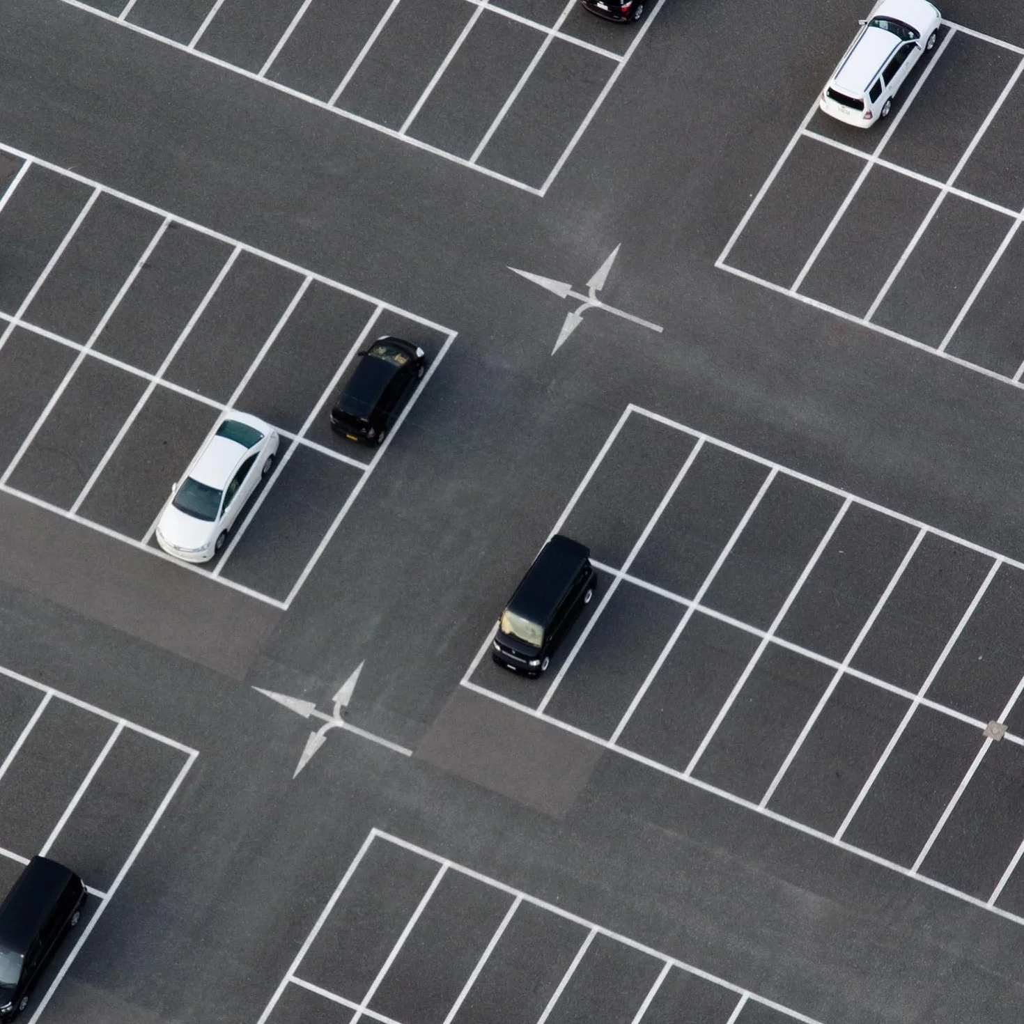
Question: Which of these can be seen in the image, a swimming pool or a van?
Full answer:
Looking from above, you can make out a van.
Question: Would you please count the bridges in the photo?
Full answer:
There are no bridges in the image.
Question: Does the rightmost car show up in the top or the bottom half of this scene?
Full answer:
Seen from above, the rightmost car lies in the top half of the view.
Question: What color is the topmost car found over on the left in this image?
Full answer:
The topmost car found over on the left is black.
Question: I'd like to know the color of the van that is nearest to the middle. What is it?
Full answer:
The van that is nearest to the middle looks black in the image.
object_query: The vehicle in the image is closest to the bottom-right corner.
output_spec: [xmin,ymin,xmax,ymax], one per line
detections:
[492,533,599,680]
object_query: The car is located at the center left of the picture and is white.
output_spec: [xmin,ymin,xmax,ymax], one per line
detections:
[157,414,277,564]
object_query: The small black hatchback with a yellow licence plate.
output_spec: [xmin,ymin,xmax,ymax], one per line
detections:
[331,338,427,448]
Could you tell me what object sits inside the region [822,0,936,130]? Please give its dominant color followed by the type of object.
white car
